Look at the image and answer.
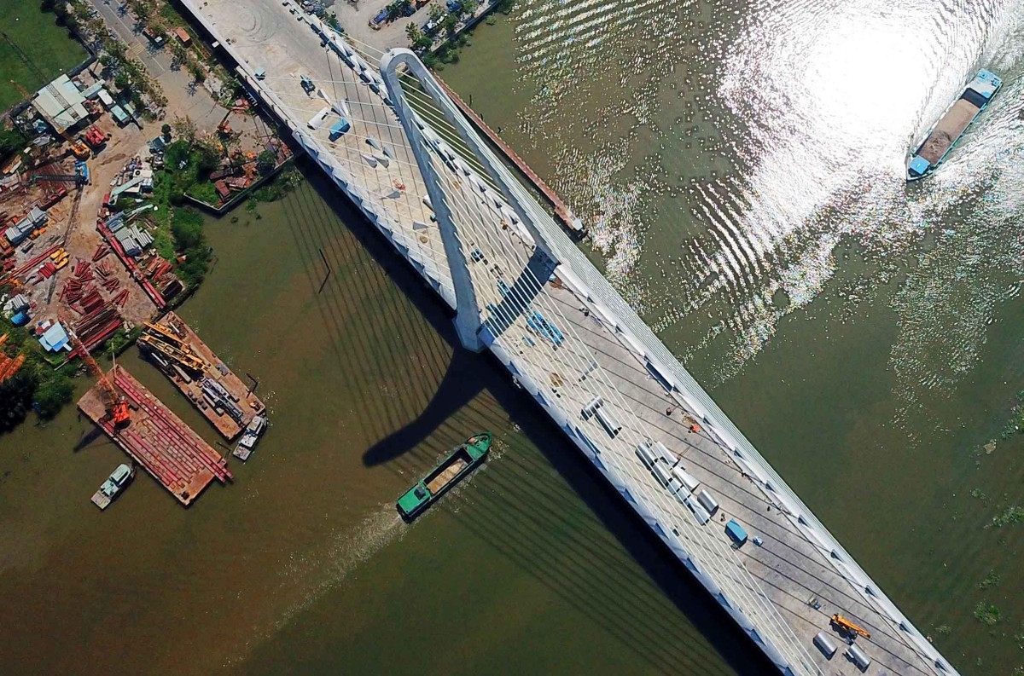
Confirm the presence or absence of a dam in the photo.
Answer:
No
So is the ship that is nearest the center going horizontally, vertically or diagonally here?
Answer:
diagonally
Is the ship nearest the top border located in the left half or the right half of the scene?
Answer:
right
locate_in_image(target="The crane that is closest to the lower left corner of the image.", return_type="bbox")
[55,313,132,427]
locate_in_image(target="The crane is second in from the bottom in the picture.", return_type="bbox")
[29,152,96,197]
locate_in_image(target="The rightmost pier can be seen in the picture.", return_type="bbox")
[435,72,592,241]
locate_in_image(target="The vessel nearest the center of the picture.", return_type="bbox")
[392,432,493,524]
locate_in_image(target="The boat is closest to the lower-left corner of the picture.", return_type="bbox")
[89,464,134,512]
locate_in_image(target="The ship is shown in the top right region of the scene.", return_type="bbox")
[902,66,1008,184]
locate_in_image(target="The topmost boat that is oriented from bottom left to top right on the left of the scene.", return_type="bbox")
[233,414,269,462]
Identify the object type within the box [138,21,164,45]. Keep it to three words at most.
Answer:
truck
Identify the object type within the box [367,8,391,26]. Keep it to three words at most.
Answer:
vehicle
